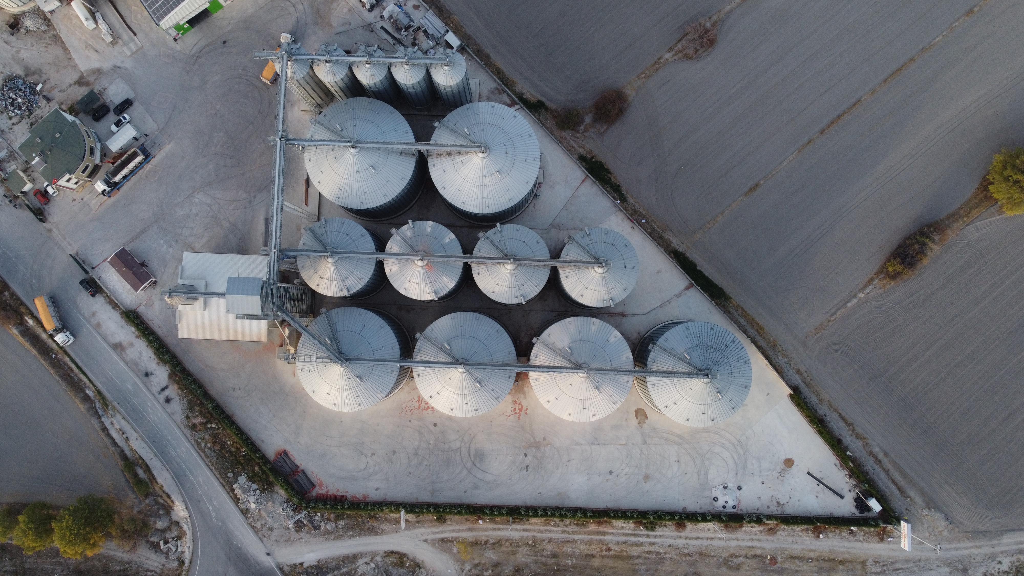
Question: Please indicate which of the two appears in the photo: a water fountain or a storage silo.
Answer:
storage silo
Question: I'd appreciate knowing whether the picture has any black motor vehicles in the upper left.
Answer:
Yes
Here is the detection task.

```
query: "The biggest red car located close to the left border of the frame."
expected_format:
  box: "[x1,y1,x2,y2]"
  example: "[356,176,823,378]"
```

[32,189,48,205]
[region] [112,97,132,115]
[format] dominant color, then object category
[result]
black car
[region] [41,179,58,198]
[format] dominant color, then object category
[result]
white car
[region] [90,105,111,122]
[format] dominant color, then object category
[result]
black car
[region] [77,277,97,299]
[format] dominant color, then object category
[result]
black vehicle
